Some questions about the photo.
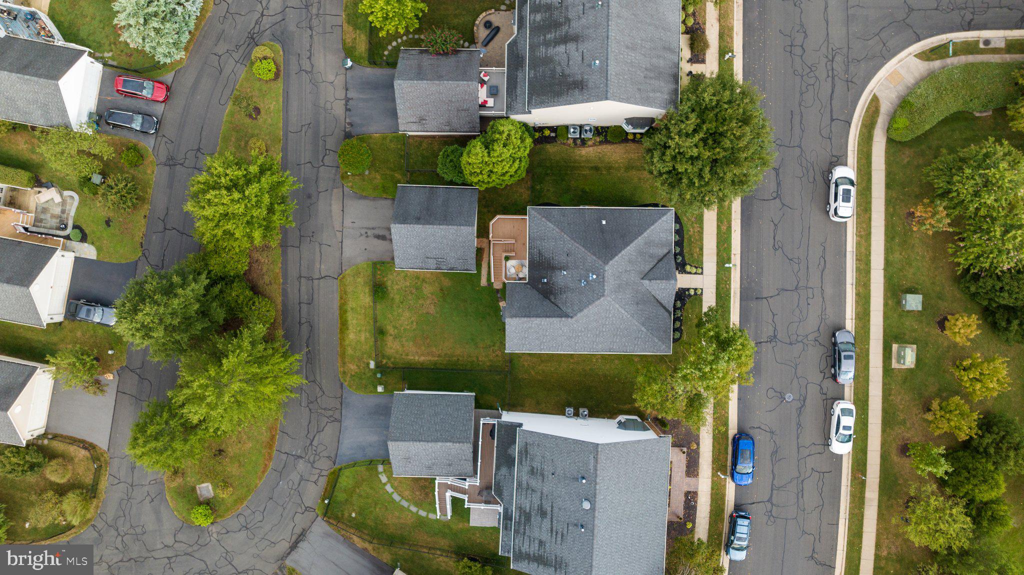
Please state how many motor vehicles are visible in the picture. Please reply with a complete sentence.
There are 8 motor vehicles in the image.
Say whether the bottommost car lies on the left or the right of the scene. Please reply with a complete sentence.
The bottommost car appears in the right half of the scene.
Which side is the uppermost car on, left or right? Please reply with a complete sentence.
It is on the left.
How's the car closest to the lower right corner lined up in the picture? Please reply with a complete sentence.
In this picture, the car closest to the lower right corner is oriented vertically.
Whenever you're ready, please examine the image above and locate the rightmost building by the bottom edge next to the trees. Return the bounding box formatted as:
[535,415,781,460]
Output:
[492,395,672,575]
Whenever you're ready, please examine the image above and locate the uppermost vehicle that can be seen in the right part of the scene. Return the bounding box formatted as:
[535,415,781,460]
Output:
[827,165,858,221]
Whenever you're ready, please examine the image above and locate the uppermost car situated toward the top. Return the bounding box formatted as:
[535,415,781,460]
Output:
[111,74,172,104]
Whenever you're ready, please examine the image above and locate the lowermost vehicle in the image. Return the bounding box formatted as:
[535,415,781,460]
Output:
[725,512,751,565]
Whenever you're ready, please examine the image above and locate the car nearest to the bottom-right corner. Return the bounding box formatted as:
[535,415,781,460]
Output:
[829,400,857,455]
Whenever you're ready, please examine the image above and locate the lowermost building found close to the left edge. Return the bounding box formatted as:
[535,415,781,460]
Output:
[0,356,59,447]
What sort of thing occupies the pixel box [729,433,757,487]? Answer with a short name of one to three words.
car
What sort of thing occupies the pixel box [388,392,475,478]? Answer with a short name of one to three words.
building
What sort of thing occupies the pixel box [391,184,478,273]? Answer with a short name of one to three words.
building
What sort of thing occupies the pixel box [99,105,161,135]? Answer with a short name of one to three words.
car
